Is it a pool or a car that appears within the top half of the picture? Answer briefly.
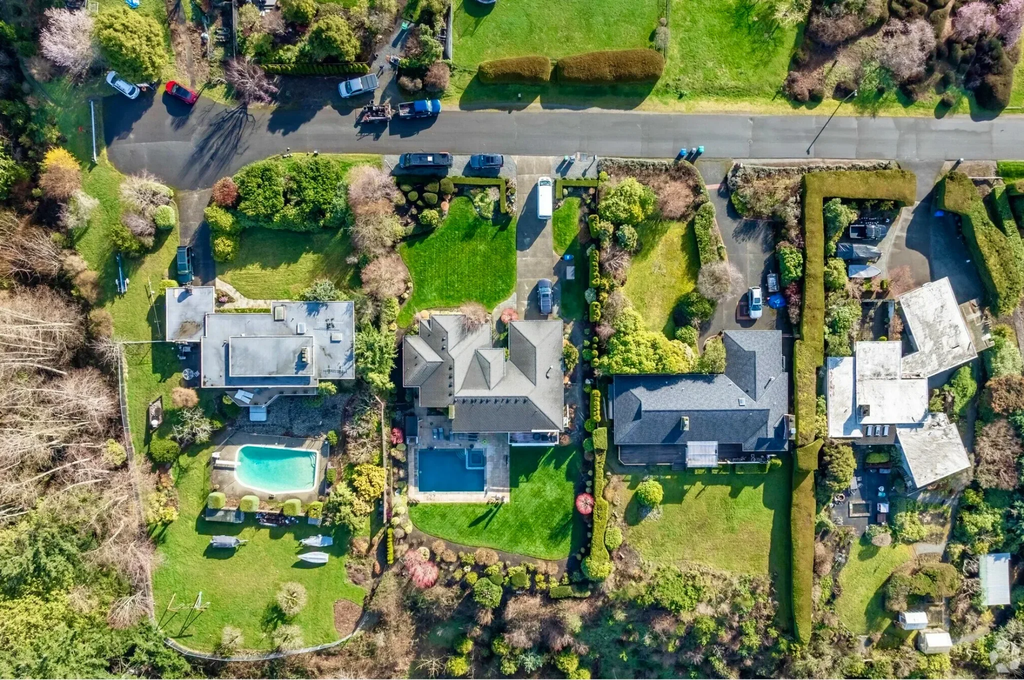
car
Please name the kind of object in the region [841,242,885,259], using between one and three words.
boat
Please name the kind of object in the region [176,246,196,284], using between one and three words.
car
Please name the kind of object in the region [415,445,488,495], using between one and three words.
swimming pool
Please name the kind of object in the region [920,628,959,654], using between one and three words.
greenhouse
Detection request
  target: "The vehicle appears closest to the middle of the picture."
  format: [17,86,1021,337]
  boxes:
[536,277,554,317]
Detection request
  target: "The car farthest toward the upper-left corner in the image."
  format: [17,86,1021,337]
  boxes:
[104,69,145,102]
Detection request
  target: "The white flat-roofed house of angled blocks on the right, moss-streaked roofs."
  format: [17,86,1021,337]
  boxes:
[823,277,977,488]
